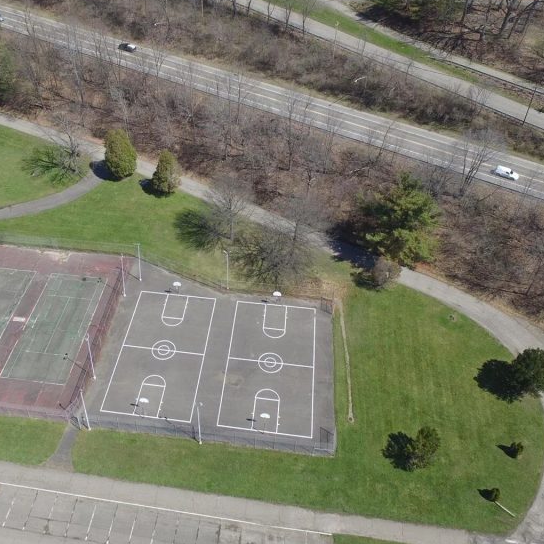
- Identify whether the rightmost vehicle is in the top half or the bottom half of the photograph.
top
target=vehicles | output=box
[492,162,521,182]
[118,43,137,52]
